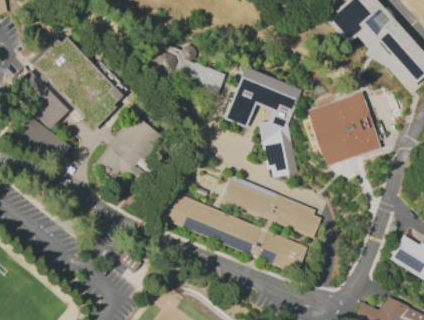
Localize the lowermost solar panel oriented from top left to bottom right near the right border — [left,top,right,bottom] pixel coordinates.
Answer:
[395,248,424,272]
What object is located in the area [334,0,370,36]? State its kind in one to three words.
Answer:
solar panel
